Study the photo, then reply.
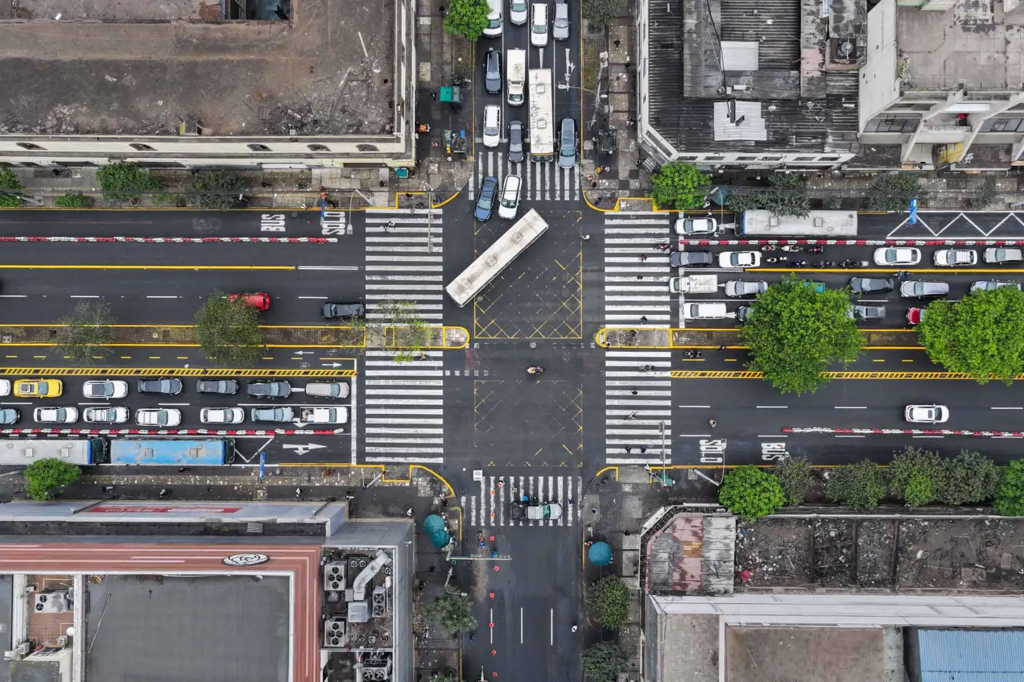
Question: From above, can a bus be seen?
Yes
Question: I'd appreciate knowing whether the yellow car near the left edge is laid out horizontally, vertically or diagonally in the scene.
horizontally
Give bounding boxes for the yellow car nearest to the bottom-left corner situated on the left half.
[12,377,67,400]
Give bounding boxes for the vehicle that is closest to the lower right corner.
[902,403,947,424]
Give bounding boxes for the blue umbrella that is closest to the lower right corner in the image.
[588,541,612,565]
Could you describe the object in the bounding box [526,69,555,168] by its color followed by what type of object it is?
white bus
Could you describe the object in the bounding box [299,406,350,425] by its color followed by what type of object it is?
white vehicle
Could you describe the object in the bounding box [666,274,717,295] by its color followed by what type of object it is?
white truck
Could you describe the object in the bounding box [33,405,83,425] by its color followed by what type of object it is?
white car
